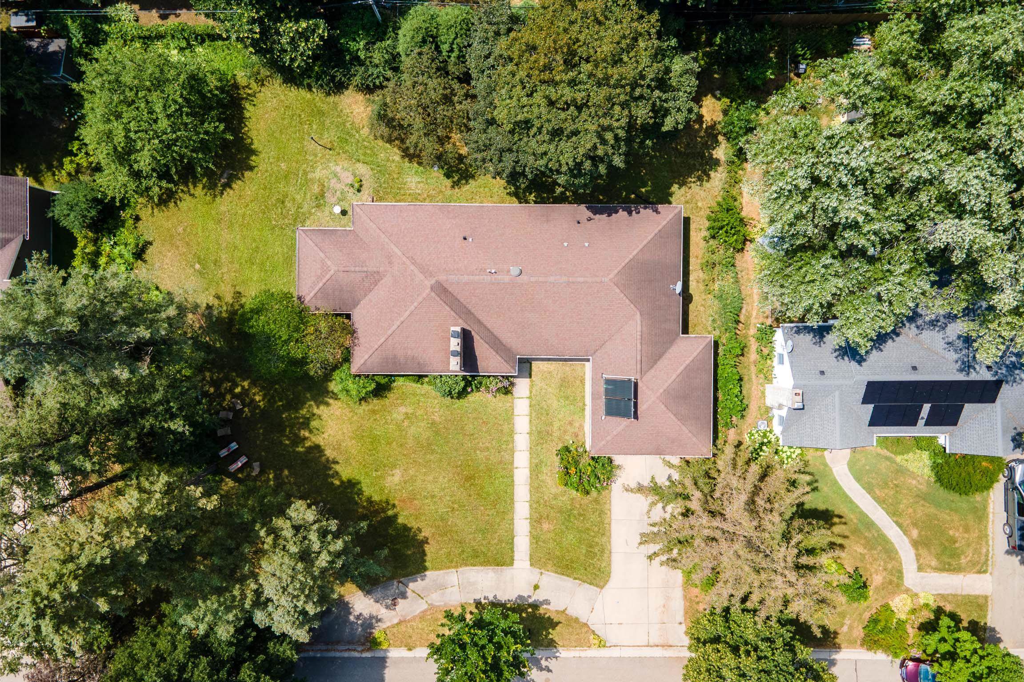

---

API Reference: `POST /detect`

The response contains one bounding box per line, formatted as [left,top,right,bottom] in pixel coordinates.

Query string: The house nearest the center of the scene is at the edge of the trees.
[295,202,714,458]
